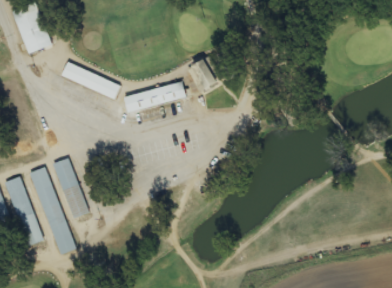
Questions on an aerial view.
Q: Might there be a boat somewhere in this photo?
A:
No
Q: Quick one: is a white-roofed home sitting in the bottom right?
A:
No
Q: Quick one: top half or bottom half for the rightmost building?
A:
top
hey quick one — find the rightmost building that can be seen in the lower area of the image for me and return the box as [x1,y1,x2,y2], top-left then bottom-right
[54,157,90,217]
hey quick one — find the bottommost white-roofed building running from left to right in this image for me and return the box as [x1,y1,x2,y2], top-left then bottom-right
[124,82,186,112]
